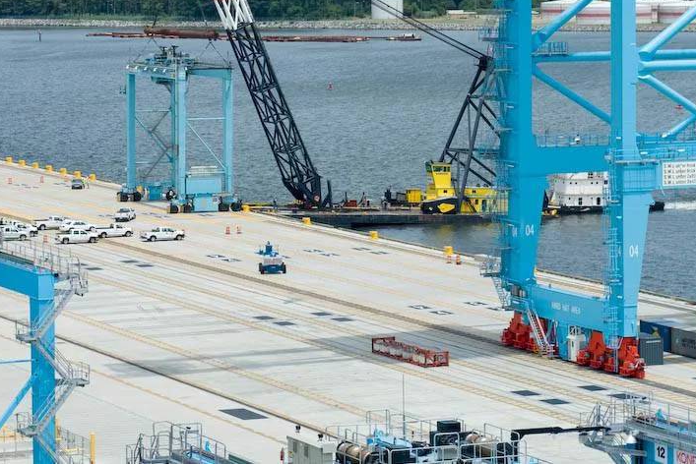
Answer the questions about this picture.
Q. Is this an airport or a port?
port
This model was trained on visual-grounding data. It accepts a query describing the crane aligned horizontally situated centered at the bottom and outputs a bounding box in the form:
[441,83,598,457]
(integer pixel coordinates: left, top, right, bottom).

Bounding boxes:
[148,332,650,464]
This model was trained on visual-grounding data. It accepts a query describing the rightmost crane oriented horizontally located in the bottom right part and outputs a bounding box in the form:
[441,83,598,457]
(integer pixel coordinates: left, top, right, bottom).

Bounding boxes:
[533,389,696,464]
